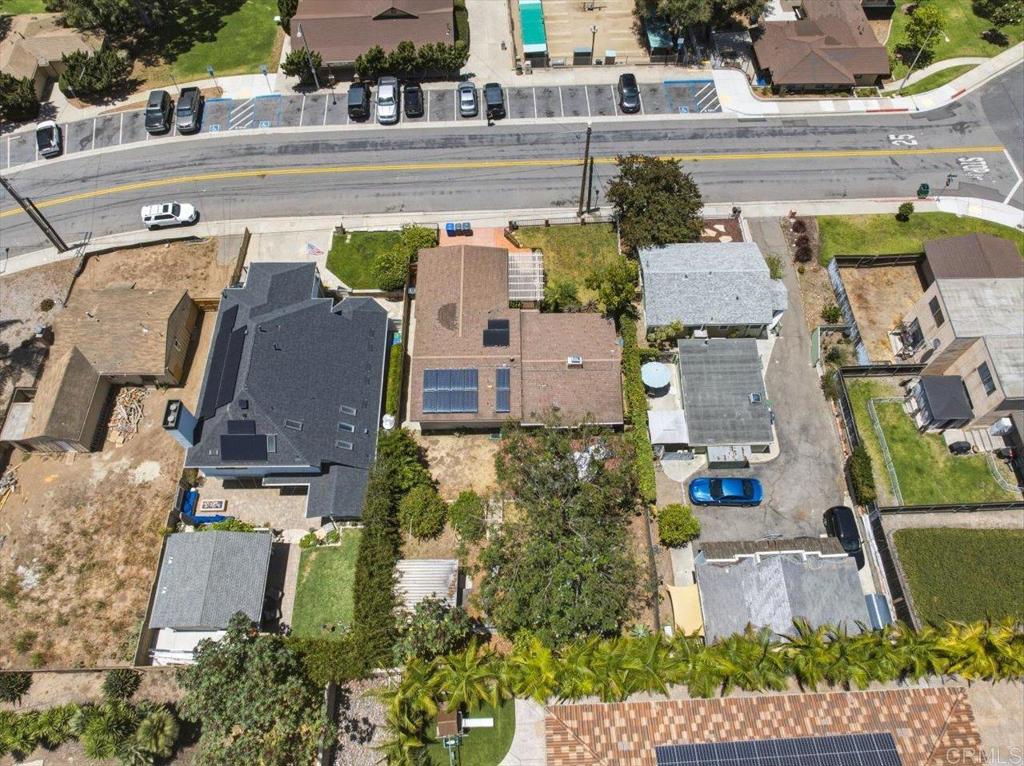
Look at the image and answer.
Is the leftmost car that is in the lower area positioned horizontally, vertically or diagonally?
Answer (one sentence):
What the image shows is the leftmost car that is in the lower area lying horizontally.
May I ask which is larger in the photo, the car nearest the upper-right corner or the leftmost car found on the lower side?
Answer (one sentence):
The leftmost car found on the lower side is larger than the car nearest the upper-right corner.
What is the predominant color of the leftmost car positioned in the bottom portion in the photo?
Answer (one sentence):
In this view, the leftmost car positioned in the bottom portion is blue.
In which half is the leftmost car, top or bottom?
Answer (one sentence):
You can find the leftmost car in the top half.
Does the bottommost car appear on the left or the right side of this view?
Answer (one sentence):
The bottommost car sits on the right side.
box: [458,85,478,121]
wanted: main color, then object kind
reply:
gray car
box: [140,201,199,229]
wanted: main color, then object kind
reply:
white car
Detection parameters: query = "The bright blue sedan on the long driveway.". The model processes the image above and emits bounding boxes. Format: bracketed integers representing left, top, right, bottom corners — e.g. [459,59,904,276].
[687,476,763,510]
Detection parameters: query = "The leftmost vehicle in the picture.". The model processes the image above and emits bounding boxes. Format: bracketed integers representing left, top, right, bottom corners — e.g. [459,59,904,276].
[36,125,66,160]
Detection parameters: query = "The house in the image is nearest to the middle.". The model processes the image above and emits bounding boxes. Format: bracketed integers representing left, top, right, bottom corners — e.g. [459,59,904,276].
[410,245,624,435]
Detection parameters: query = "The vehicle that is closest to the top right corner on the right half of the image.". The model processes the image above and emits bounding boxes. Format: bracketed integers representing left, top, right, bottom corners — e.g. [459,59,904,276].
[616,73,641,114]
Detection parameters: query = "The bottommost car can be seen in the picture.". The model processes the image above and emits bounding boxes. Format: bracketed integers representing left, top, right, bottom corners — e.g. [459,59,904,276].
[820,501,868,574]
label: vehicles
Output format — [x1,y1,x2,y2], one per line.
[144,90,172,134]
[687,476,763,510]
[403,81,425,121]
[140,201,199,229]
[484,79,506,121]
[36,125,66,160]
[347,88,370,121]
[376,78,399,126]
[458,85,478,121]
[174,88,203,134]
[616,73,641,114]
[820,501,868,574]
